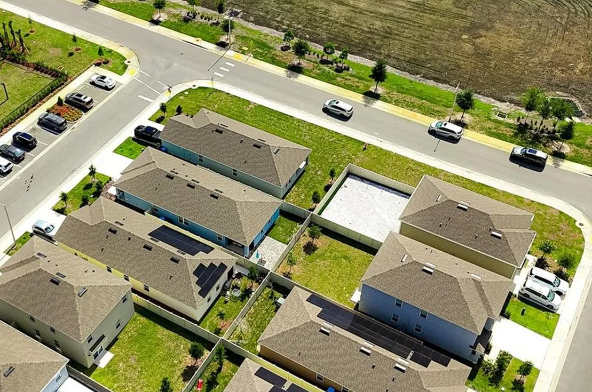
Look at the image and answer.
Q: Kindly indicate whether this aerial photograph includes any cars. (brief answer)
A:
Yes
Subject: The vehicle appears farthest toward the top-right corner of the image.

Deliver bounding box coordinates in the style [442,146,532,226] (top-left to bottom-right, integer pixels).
[510,151,549,173]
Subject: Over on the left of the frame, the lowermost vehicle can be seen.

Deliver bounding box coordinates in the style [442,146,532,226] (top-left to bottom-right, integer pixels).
[27,217,60,240]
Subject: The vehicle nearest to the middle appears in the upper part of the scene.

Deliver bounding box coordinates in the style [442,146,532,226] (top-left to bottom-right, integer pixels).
[322,104,354,124]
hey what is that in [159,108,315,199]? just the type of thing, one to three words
house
